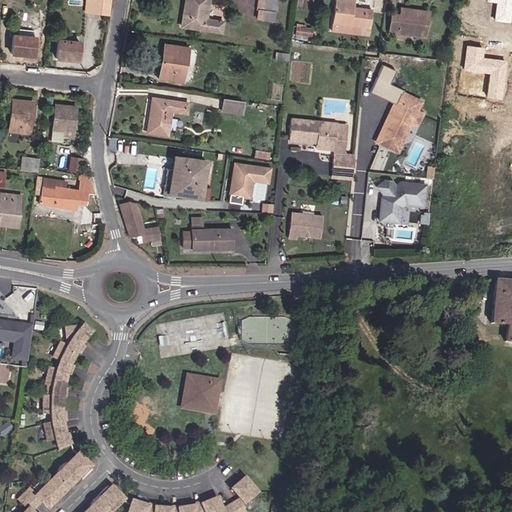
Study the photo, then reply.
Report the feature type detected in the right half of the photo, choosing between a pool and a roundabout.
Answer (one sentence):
There is a pool in the right half of the photo.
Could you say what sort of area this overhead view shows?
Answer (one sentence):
What you see here is a residential area.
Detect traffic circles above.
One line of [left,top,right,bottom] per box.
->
[64,241,184,330]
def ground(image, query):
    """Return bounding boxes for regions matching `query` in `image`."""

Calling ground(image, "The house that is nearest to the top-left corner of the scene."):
[11,34,38,58]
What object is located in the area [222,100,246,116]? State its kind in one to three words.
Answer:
building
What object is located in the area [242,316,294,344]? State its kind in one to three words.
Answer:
sports court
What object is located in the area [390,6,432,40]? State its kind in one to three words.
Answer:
house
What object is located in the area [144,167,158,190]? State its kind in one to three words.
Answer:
swimming pool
